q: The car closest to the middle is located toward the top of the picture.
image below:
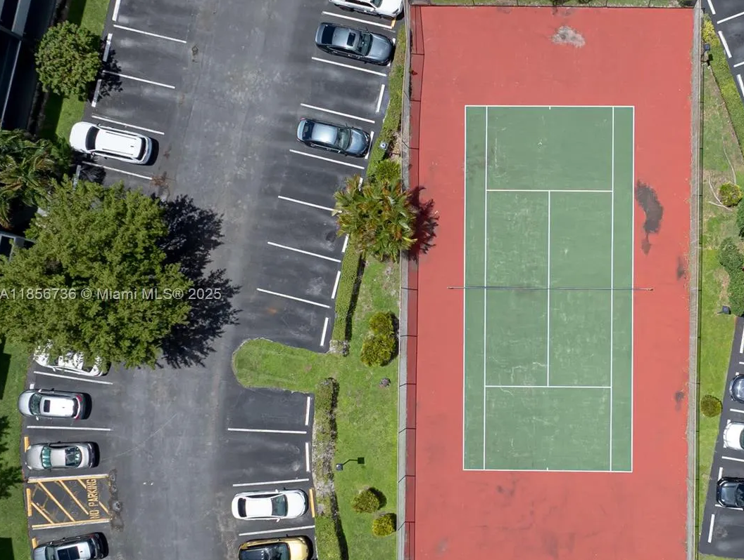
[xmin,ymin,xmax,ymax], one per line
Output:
[297,116,370,158]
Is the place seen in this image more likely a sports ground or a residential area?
sports ground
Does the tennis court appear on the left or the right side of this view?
right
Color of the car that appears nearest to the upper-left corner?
white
